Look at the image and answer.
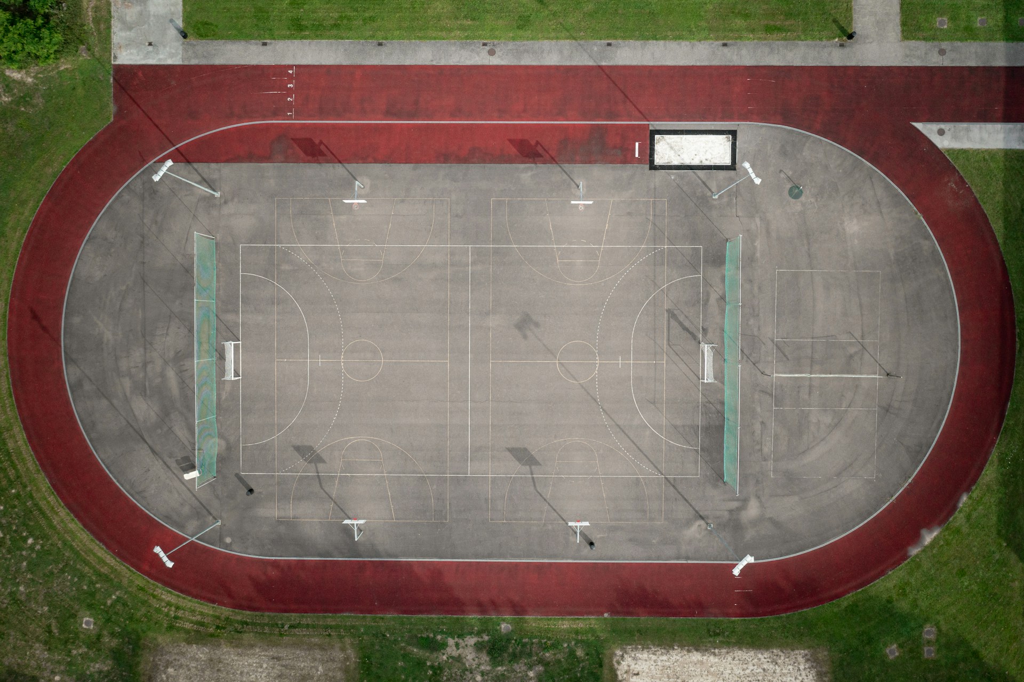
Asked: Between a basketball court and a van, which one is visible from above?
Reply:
basketball court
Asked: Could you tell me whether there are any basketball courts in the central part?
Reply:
Yes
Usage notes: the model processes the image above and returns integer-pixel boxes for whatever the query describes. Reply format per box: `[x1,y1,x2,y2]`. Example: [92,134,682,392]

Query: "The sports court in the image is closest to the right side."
[771,269,881,479]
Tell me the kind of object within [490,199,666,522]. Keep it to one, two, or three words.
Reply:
basketball court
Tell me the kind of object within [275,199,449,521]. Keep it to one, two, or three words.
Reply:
basketball court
